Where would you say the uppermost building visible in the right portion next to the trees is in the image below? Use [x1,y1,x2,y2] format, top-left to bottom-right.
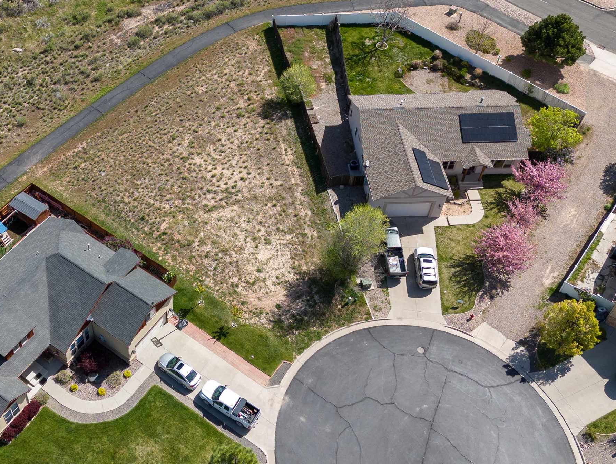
[347,91,535,218]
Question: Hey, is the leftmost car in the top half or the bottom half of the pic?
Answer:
bottom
